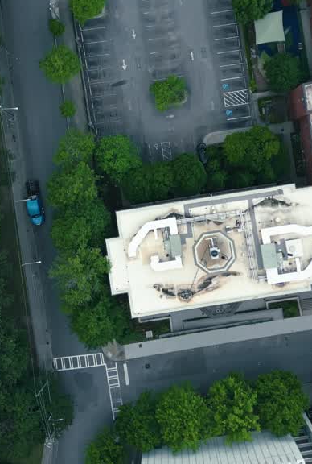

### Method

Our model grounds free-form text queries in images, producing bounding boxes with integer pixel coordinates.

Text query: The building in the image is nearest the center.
[106,181,312,318]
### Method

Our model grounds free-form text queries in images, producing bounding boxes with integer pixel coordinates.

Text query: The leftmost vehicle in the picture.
[26,179,44,222]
